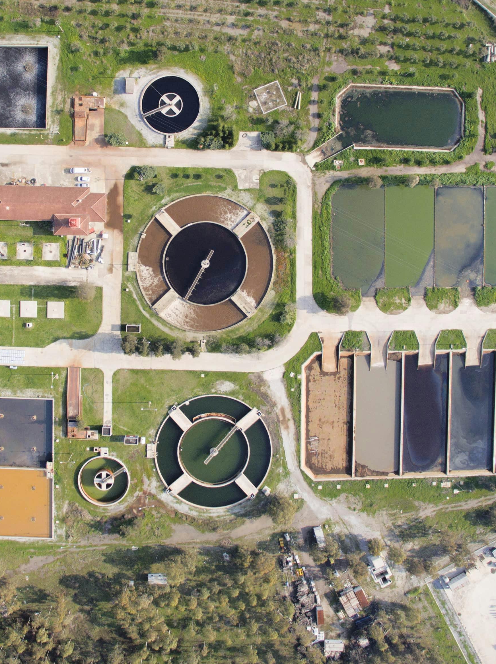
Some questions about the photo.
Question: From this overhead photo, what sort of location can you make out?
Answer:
industrial area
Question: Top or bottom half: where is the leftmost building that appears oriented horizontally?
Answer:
top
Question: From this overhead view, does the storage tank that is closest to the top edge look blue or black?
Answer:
black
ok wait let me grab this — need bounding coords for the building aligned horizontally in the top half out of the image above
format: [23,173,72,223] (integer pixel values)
[0,185,108,235]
